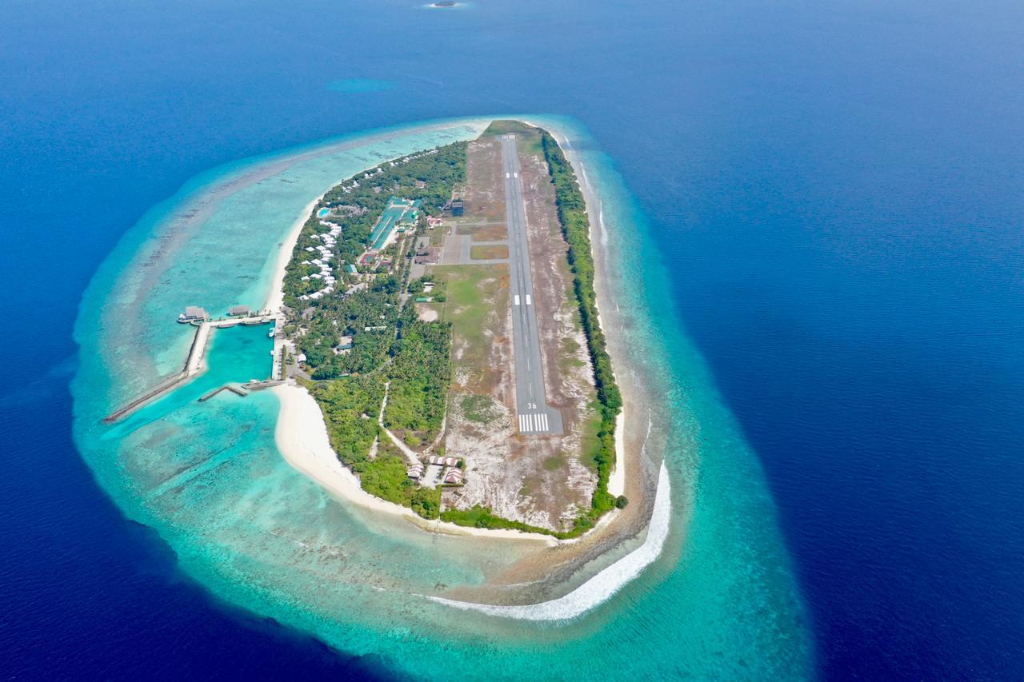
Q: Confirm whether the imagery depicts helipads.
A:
No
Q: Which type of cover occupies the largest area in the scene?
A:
water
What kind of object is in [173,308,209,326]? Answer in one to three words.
building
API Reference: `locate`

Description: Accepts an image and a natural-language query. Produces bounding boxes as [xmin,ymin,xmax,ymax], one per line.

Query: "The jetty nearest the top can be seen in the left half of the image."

[205,312,277,326]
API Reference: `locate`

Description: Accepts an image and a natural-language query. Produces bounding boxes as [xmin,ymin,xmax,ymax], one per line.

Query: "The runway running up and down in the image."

[495,133,564,435]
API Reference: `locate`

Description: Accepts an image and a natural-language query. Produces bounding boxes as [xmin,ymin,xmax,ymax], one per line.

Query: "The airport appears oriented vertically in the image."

[439,133,564,435]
